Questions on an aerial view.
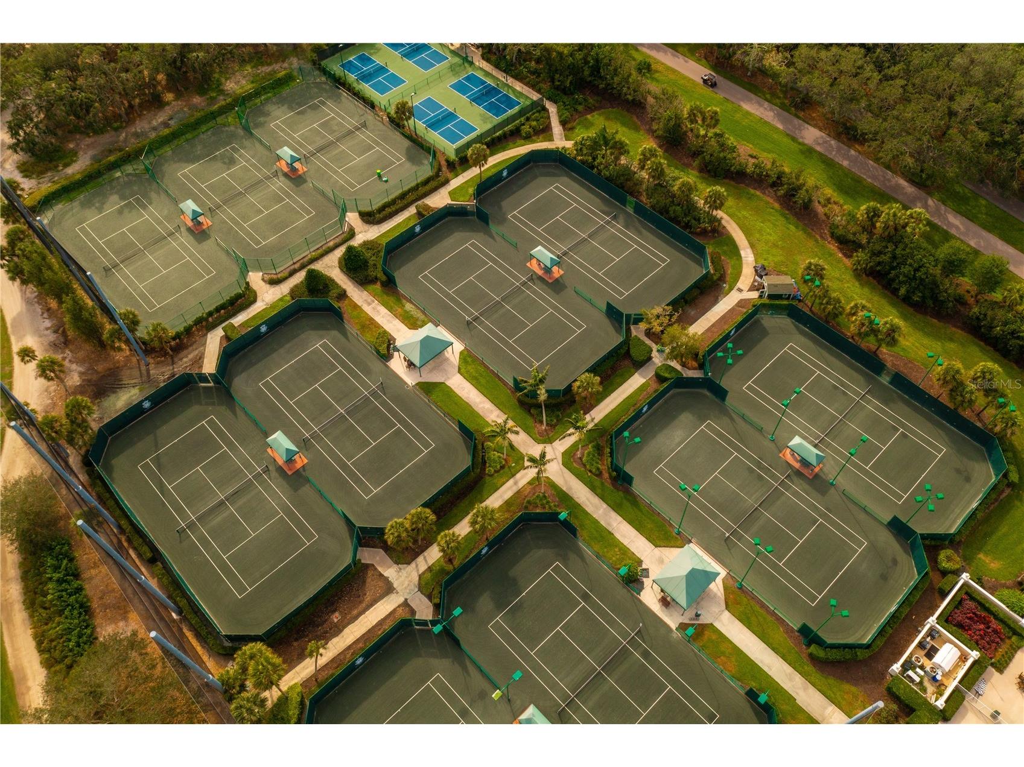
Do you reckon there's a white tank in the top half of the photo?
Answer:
No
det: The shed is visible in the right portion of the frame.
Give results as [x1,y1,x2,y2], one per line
[755,280,791,304]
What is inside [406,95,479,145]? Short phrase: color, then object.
blue sports court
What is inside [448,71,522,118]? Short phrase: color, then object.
blue sports court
